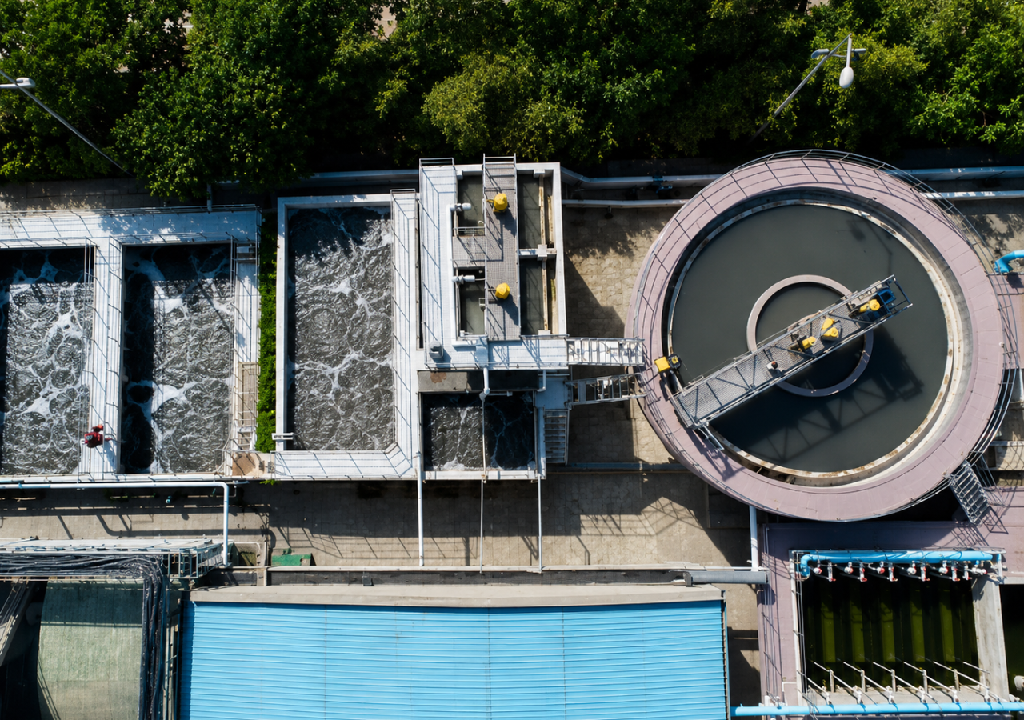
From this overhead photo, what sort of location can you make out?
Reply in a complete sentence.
This looks like an industrial area.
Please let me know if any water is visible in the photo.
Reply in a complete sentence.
Yes, there's water in this view.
